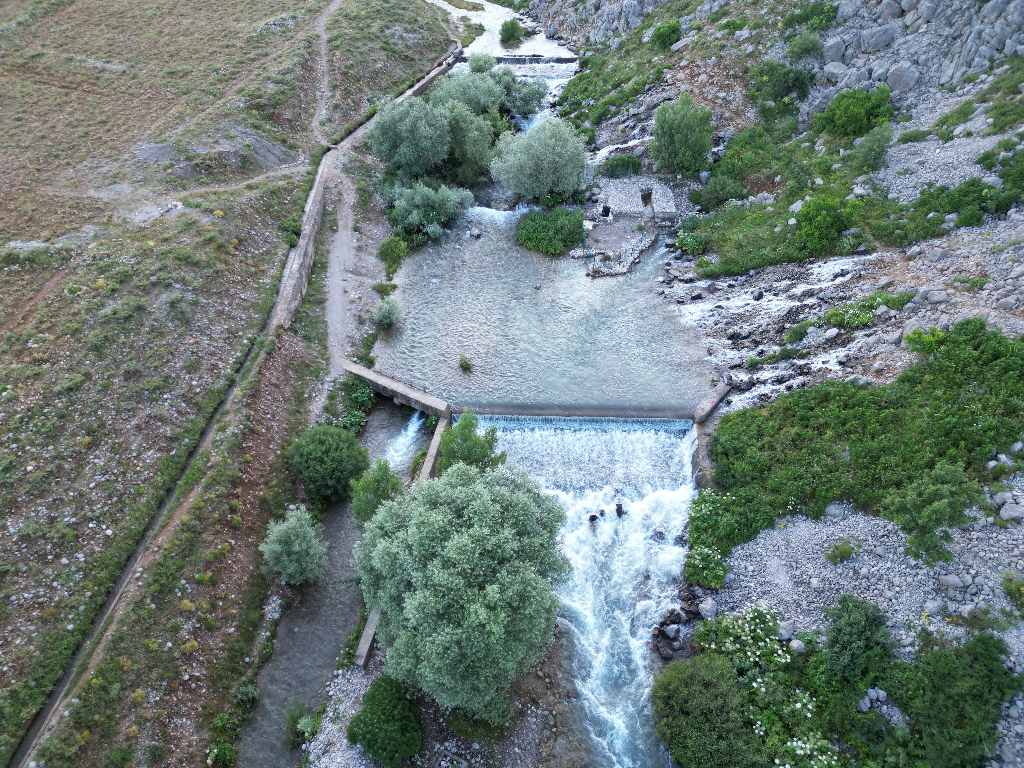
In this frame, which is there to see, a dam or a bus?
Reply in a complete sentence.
It is a dam that can be seen here.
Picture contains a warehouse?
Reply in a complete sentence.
No, the scene contains no warehouse.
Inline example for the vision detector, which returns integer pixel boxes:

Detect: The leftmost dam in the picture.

[341,360,456,432]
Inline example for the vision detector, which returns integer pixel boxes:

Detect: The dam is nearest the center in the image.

[455,412,546,431]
